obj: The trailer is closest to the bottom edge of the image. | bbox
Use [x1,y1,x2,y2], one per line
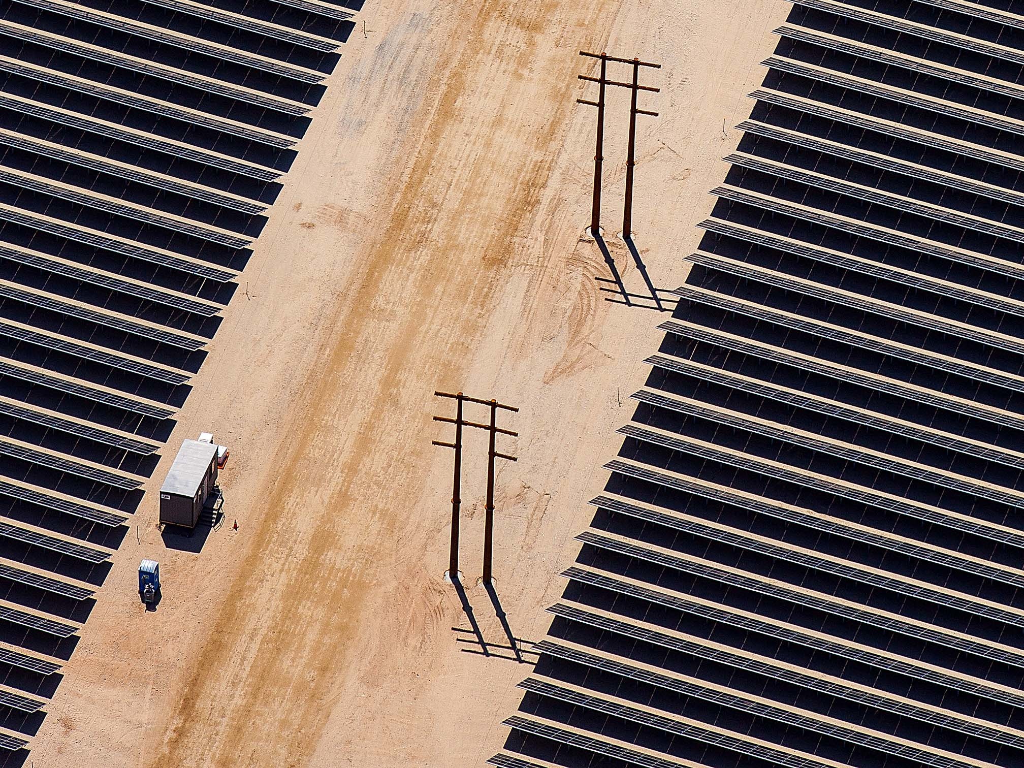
[159,439,219,534]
